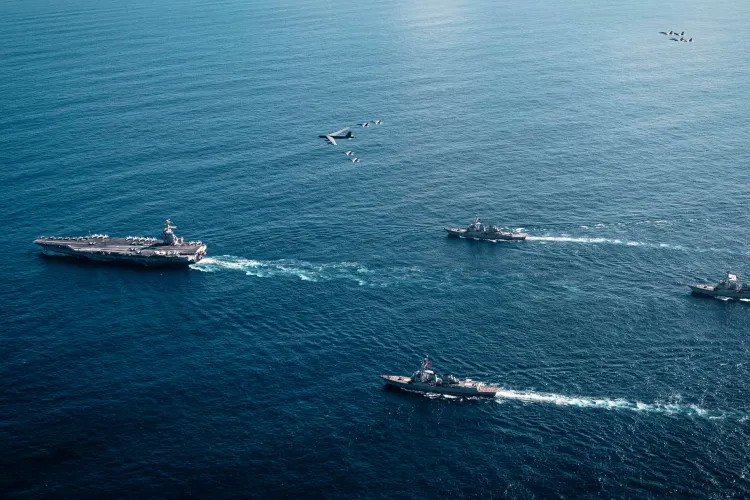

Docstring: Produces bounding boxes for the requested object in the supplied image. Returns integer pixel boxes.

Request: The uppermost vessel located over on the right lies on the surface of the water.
[445,214,527,242]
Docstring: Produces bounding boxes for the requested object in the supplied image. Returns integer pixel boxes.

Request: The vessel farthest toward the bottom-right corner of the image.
[689,270,750,299]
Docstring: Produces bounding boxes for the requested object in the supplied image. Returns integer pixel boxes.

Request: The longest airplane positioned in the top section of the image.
[319,127,354,145]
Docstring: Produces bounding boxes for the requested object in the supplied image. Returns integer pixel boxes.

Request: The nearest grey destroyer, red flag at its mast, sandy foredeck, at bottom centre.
[381,357,499,398]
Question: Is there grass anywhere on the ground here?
No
